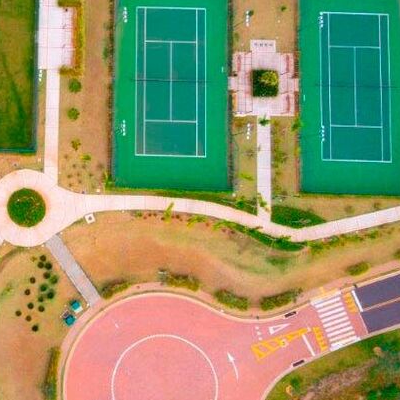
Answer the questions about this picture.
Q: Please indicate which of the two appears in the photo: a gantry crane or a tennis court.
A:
tennis court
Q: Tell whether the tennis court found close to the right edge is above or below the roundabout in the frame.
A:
above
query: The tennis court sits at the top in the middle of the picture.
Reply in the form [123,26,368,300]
[115,0,230,191]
